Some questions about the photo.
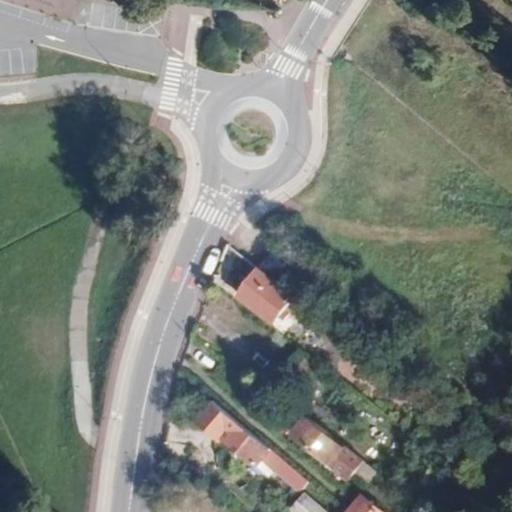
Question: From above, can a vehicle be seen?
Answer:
Yes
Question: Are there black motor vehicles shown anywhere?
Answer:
No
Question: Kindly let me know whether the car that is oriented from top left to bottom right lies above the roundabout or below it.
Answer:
below it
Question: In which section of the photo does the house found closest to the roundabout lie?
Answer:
center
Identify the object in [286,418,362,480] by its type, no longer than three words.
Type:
house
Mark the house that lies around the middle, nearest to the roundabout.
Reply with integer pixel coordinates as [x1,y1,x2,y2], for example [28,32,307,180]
[235,267,288,326]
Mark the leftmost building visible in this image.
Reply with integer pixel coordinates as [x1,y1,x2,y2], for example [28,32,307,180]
[195,402,246,444]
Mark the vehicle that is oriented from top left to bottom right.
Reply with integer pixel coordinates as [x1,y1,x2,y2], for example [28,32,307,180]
[194,350,216,370]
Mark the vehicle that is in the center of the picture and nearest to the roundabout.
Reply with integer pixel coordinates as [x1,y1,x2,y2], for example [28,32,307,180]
[202,249,220,274]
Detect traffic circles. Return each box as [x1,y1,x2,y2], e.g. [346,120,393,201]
[202,80,306,184]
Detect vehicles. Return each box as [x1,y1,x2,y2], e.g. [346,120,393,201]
[194,350,216,370]
[202,249,220,274]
